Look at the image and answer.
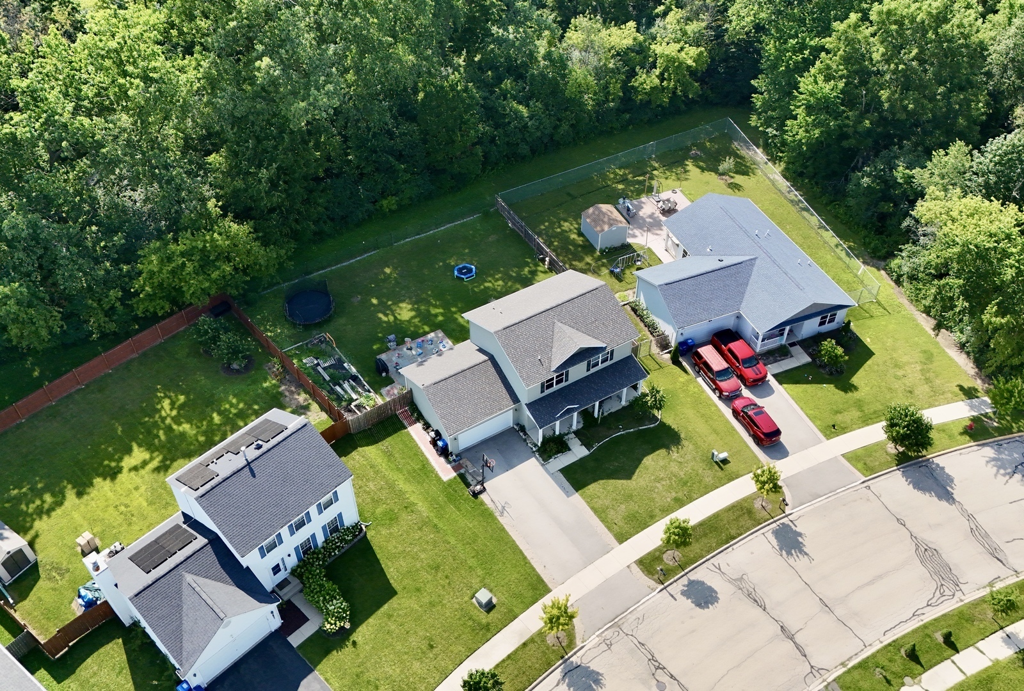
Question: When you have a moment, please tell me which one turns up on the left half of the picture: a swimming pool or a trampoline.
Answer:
trampoline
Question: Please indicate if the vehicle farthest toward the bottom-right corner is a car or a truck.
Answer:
car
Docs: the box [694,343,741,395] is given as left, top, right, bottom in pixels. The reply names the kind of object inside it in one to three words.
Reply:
car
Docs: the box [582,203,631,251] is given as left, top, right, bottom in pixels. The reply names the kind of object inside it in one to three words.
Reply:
shed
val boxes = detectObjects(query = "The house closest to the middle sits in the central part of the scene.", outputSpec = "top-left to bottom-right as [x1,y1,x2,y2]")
[399,269,649,454]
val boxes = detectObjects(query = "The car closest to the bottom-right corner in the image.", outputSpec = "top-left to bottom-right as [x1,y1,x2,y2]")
[731,394,782,442]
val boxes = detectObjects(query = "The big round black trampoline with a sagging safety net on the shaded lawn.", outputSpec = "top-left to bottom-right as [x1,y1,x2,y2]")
[283,270,334,323]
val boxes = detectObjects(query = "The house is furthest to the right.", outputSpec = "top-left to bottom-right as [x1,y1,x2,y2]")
[633,193,858,354]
